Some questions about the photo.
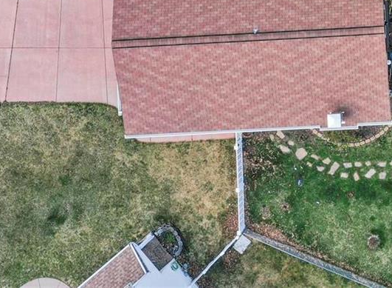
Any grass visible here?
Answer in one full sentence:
Yes, some grass is visible.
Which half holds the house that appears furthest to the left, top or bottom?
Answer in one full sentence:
The bottom half of the photo is where the house that appears furthest to the left is.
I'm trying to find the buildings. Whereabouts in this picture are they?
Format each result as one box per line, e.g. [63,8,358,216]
[111,0,392,141]
[75,232,201,288]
